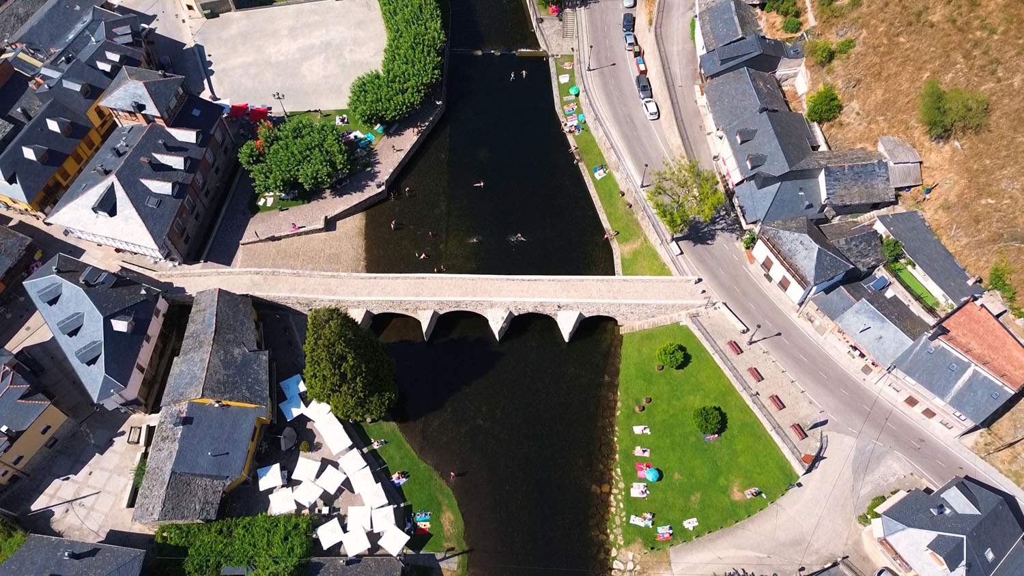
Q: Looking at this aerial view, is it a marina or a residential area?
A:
residential area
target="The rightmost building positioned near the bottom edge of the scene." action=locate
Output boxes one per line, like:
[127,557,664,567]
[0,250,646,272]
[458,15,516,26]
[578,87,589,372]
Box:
[866,476,1024,576]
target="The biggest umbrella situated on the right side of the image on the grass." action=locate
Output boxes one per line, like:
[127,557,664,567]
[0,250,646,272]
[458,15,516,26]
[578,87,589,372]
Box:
[648,468,663,483]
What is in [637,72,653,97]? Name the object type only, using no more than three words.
car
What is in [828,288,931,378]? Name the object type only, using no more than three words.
house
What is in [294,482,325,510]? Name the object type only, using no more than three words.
umbrella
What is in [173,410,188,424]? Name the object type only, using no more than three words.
chimney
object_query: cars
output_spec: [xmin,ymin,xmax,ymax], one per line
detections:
[637,72,653,97]
[624,28,639,50]
[623,13,636,31]
[624,0,635,8]
[642,97,661,120]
